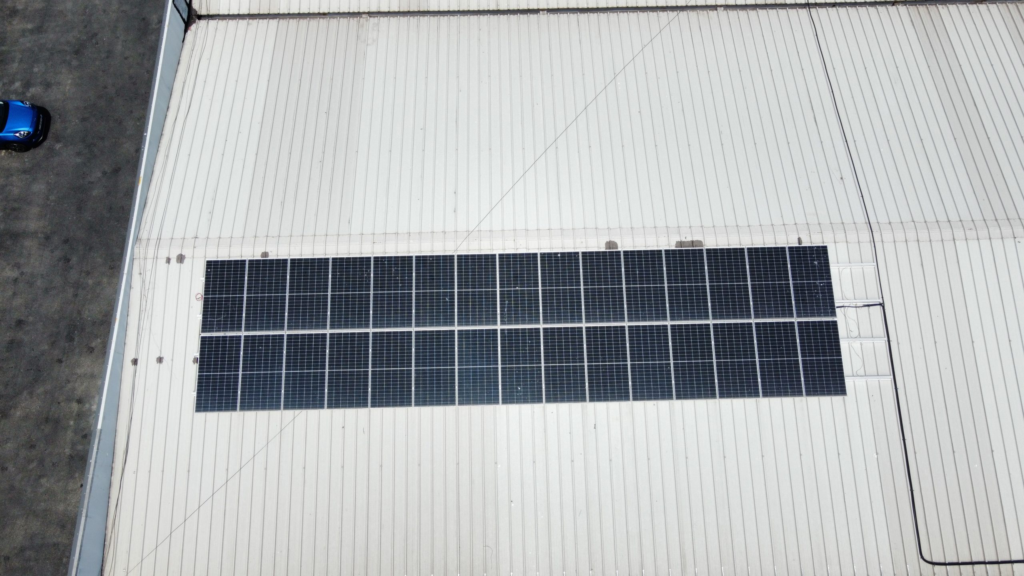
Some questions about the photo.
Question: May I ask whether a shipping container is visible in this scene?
No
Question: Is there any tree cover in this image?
No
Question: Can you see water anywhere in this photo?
No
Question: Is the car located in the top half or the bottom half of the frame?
top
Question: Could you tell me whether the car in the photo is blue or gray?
blue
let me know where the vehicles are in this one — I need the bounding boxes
[0,103,44,151]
